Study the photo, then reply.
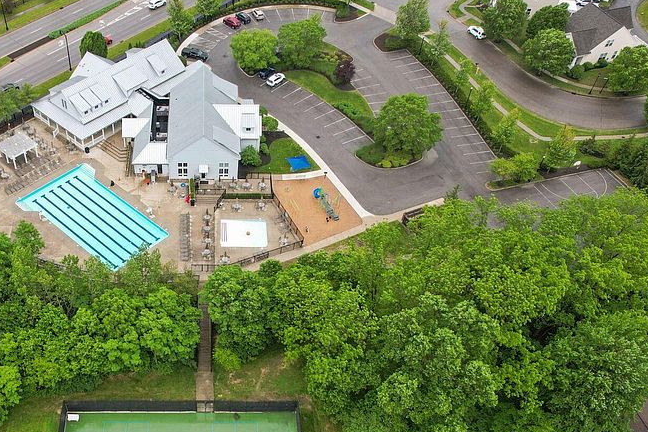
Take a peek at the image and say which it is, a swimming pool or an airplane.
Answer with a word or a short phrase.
swimming pool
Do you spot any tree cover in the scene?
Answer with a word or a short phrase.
Yes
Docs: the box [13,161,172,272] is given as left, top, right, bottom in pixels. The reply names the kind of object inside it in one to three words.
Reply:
swimming pool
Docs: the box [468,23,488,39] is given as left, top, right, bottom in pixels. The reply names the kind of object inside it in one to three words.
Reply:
car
